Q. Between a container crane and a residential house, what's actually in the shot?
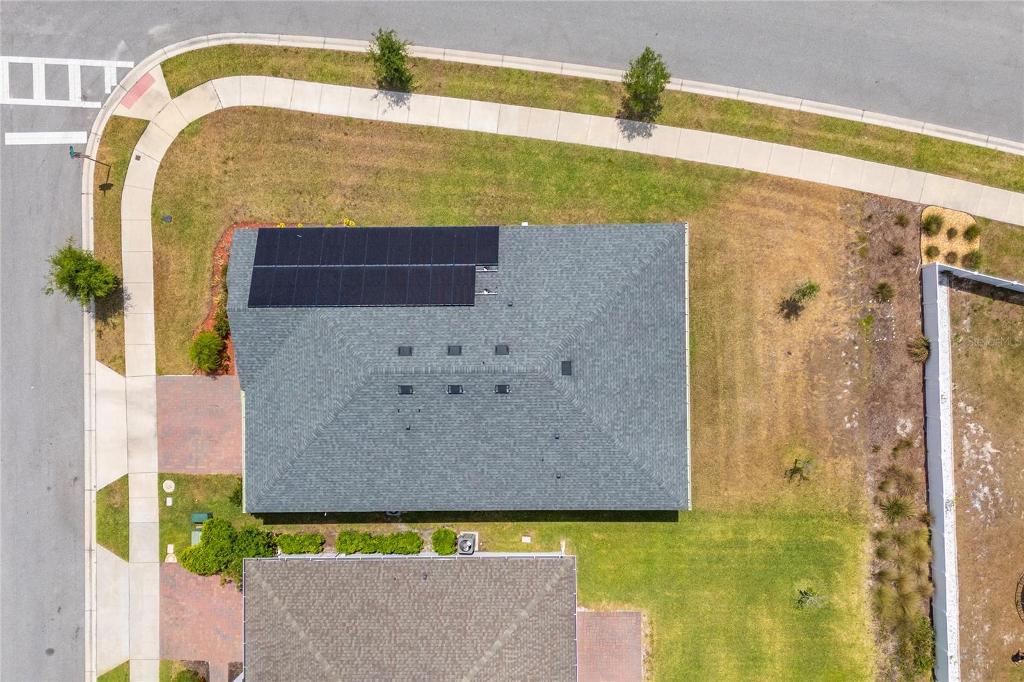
residential house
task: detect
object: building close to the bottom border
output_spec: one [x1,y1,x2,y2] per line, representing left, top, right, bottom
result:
[236,540,578,682]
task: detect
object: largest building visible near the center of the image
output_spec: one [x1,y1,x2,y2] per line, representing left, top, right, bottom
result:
[224,223,693,514]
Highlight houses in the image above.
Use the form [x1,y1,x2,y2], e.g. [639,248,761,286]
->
[224,223,693,514]
[236,540,578,682]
